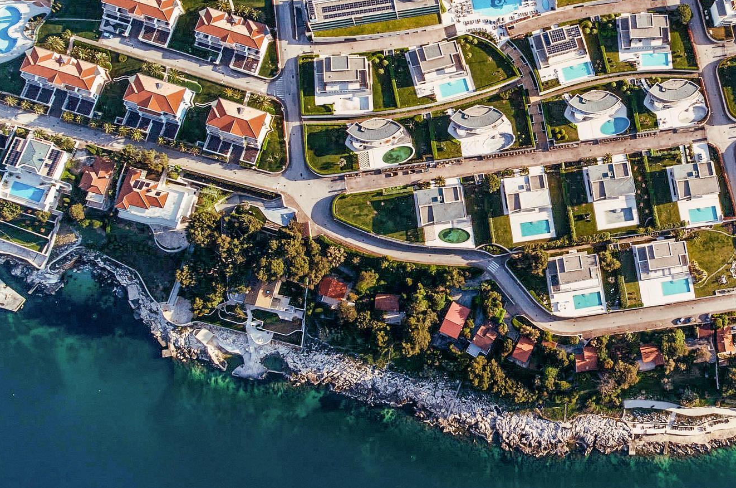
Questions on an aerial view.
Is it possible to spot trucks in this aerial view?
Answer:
No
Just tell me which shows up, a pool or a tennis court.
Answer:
pool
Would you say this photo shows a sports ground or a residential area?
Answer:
residential area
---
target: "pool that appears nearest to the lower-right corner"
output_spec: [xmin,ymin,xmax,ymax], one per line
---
[660,273,690,293]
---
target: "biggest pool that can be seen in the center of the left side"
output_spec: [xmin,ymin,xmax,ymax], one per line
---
[8,179,46,205]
